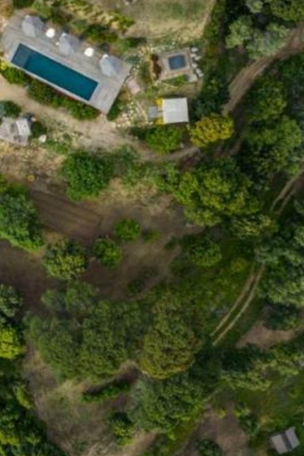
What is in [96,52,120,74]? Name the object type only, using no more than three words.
umbrella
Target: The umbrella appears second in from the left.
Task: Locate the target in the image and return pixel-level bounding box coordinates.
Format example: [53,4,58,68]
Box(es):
[56,33,78,53]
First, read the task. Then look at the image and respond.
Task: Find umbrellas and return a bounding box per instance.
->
[21,15,42,37]
[56,33,78,53]
[96,52,120,74]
